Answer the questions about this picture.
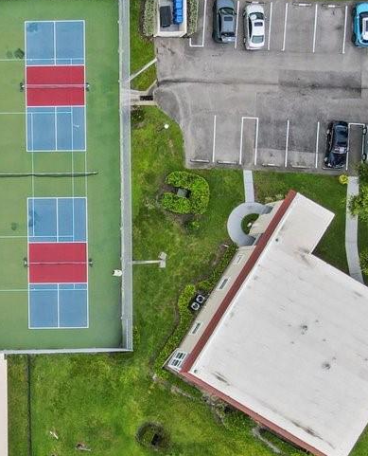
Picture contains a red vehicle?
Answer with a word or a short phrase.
No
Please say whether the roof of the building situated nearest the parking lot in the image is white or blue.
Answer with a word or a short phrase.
white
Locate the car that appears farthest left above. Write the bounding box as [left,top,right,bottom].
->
[212,0,236,43]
